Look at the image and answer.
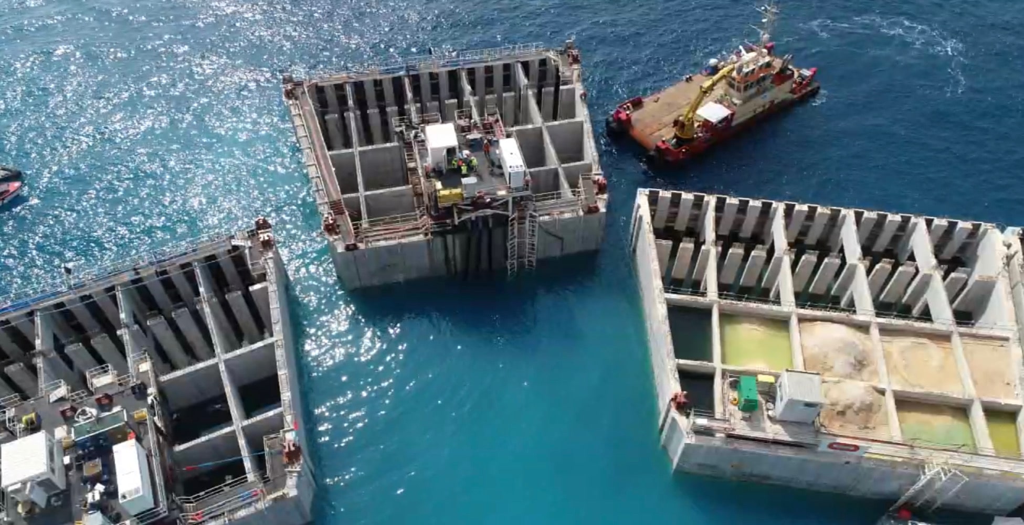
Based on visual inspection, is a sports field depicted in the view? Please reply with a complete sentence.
No, I can't see a single sports field in this photo.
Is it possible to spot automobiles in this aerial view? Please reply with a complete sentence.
No, there is no automobile in the image.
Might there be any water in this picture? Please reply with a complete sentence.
Yes, some water is visible.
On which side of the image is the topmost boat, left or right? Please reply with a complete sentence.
It is on the right.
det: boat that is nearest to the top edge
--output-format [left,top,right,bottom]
[606,0,825,162]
